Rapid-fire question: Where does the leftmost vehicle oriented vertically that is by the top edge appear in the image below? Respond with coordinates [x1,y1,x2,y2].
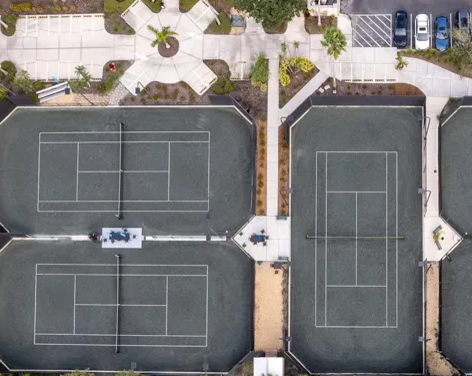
[393,14,409,48]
